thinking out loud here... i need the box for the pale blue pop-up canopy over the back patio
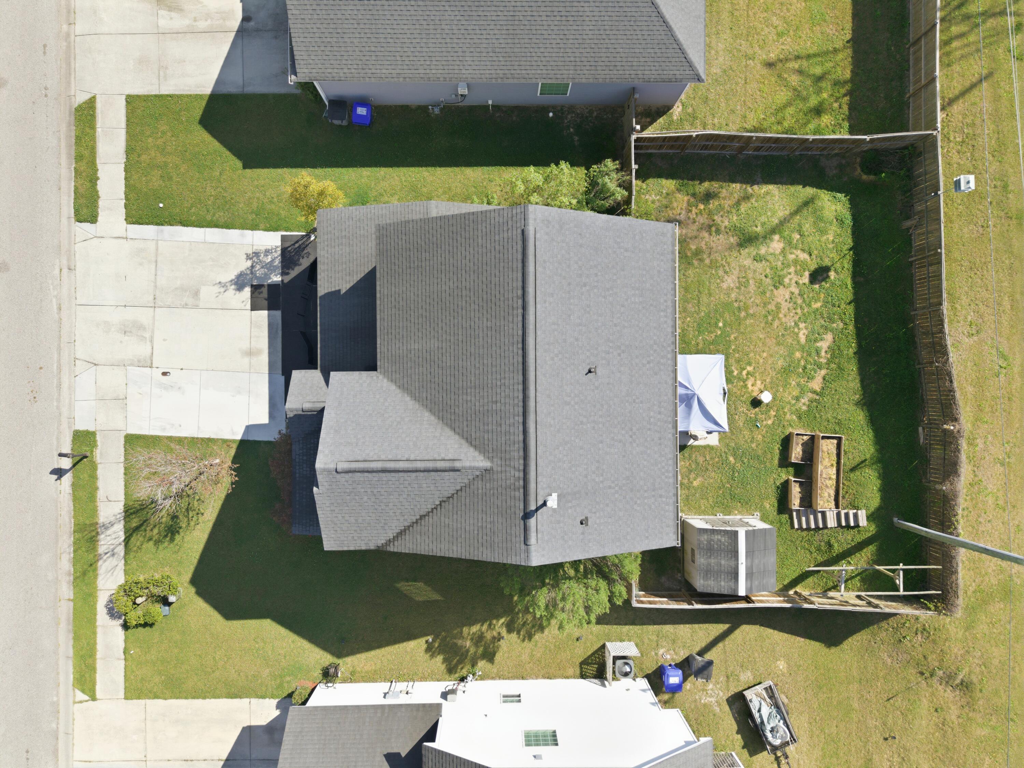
[681,354,728,432]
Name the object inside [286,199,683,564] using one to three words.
house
